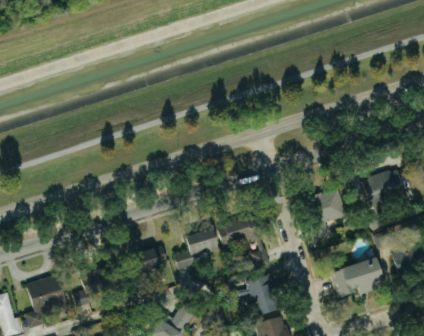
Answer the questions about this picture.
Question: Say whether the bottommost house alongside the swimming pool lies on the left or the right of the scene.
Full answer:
The bottommost house alongside the swimming pool sits on the right side.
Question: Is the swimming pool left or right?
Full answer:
The swimming pool appears in the right half of the scene.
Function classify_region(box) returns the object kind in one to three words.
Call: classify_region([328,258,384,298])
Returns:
house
